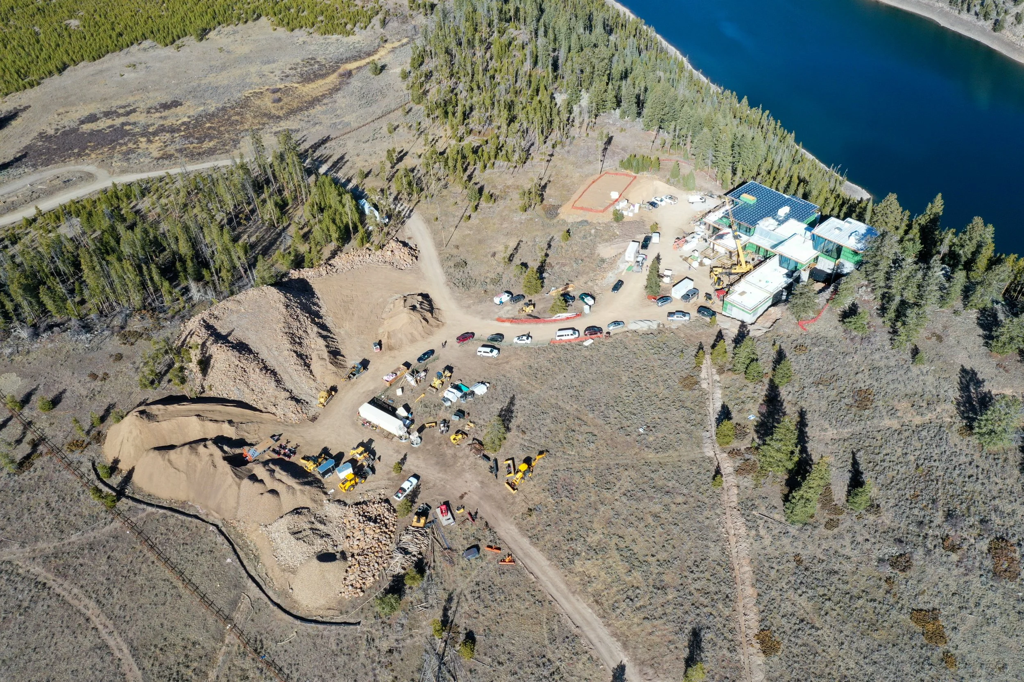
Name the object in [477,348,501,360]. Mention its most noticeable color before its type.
white vehicle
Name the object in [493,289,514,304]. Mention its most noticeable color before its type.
white vehicle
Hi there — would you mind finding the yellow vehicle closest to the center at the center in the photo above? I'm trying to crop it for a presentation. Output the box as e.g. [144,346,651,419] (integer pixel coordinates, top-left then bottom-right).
[517,301,536,313]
